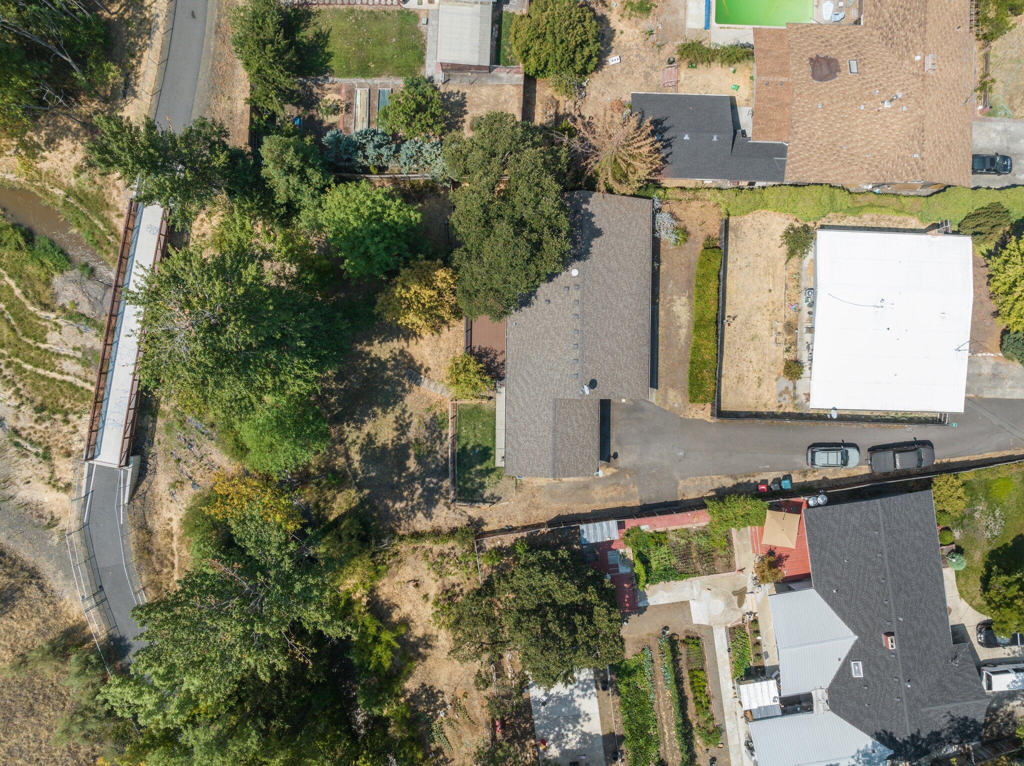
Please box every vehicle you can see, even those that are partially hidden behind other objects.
[971,150,1011,177]
[865,444,936,473]
[978,663,1024,695]
[973,621,1021,648]
[805,444,860,470]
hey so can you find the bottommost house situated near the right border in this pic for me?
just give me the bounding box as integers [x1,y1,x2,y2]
[798,489,989,766]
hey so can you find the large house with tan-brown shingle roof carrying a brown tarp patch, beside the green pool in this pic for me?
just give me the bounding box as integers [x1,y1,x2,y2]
[745,0,975,191]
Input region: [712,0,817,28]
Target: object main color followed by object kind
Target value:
green swimming pool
